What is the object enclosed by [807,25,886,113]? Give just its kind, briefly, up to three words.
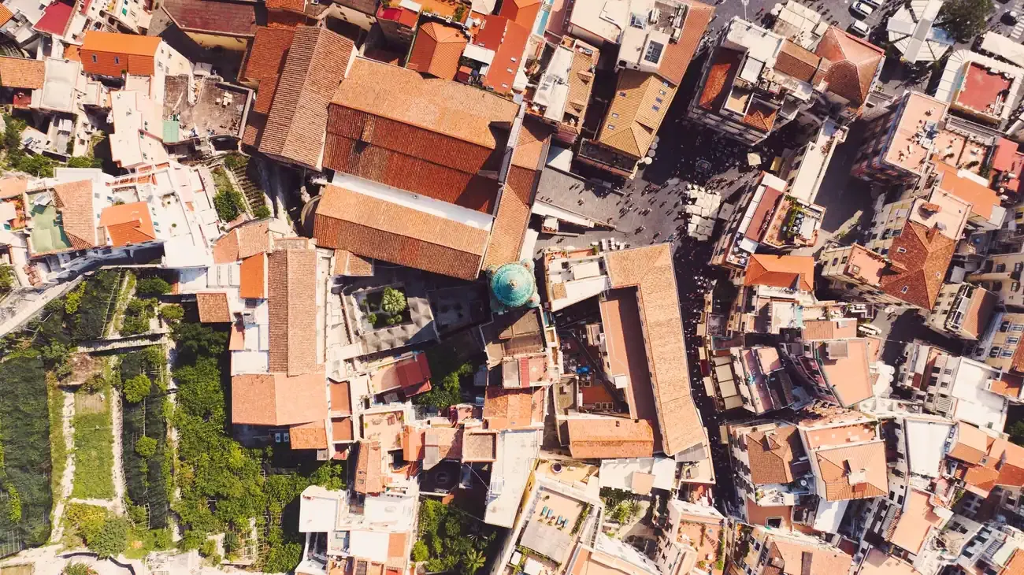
house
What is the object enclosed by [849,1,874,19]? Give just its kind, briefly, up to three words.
car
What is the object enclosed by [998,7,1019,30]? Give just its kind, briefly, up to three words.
car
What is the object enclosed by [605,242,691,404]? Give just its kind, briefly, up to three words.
building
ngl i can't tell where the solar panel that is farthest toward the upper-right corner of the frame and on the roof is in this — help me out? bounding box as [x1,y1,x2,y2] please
[647,40,663,62]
